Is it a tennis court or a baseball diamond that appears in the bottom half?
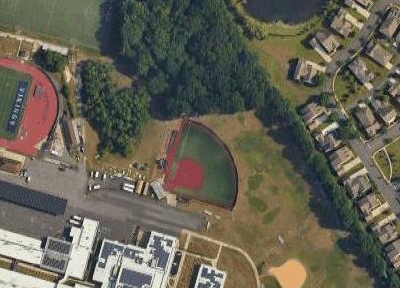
baseball diamond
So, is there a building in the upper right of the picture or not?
Yes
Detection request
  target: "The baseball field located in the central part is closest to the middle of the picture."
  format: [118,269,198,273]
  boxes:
[162,118,238,210]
